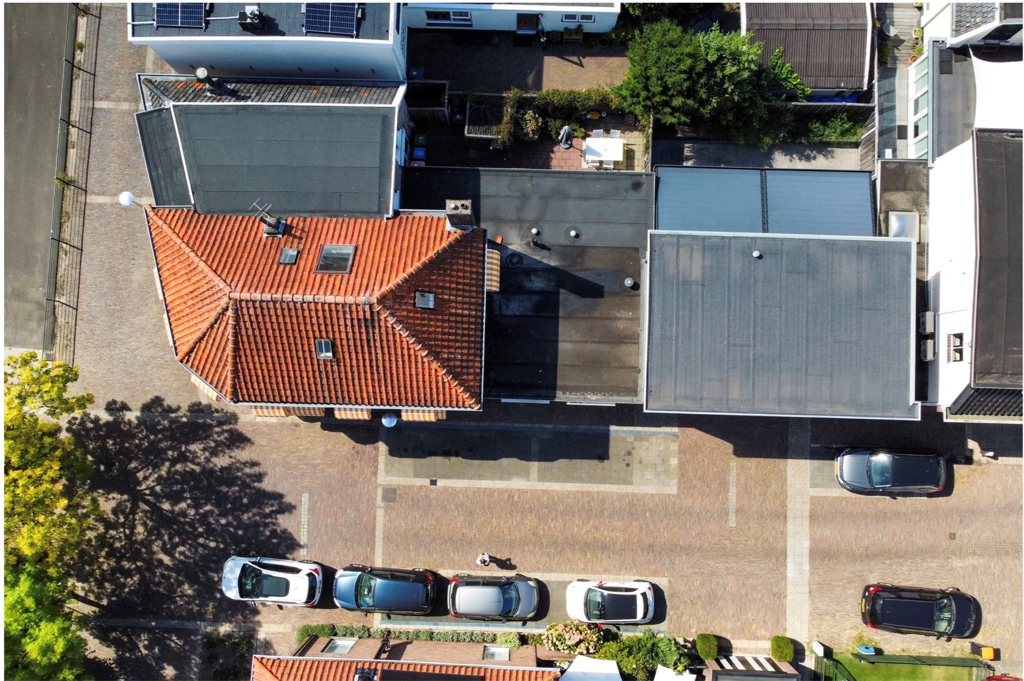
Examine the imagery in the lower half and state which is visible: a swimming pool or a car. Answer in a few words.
car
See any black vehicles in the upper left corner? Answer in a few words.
No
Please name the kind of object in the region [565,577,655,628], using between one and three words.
car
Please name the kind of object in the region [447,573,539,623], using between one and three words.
car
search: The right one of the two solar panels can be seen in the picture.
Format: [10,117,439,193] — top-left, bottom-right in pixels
[302,0,361,38]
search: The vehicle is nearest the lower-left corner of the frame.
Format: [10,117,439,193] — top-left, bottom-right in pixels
[223,555,325,609]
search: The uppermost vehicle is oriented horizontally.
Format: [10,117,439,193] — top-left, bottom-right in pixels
[831,445,948,500]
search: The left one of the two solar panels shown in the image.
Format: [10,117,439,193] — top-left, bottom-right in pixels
[153,0,210,31]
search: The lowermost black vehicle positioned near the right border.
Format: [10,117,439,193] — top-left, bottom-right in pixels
[857,582,973,639]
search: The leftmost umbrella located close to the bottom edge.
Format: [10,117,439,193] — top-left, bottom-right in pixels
[567,656,620,681]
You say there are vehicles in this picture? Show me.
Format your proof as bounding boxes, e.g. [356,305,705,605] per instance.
[332,562,438,616]
[857,582,973,639]
[831,445,948,500]
[447,573,539,623]
[565,577,655,628]
[223,555,325,609]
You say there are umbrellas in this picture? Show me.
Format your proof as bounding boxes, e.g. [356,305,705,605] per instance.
[656,665,695,681]
[559,136,572,153]
[567,656,620,681]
